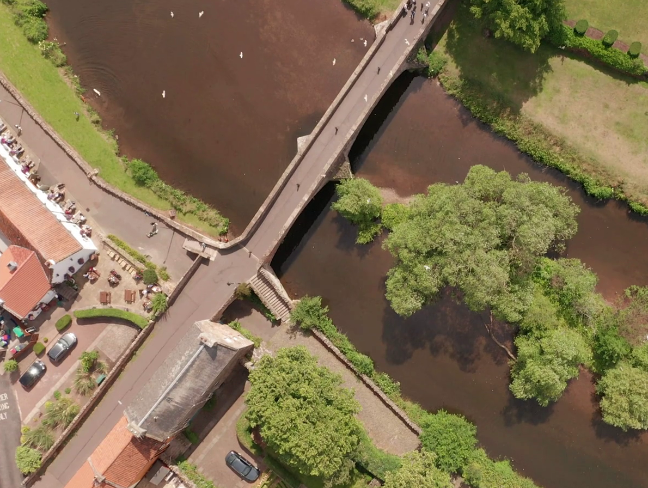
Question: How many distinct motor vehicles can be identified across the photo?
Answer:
3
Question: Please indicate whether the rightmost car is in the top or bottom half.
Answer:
bottom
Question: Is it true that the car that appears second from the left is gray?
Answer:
Yes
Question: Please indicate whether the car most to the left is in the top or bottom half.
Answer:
bottom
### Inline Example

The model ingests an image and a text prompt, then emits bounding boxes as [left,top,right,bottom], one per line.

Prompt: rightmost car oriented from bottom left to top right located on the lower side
[46,329,81,365]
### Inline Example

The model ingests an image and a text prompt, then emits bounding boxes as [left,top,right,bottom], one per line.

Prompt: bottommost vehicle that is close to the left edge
[16,360,50,392]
